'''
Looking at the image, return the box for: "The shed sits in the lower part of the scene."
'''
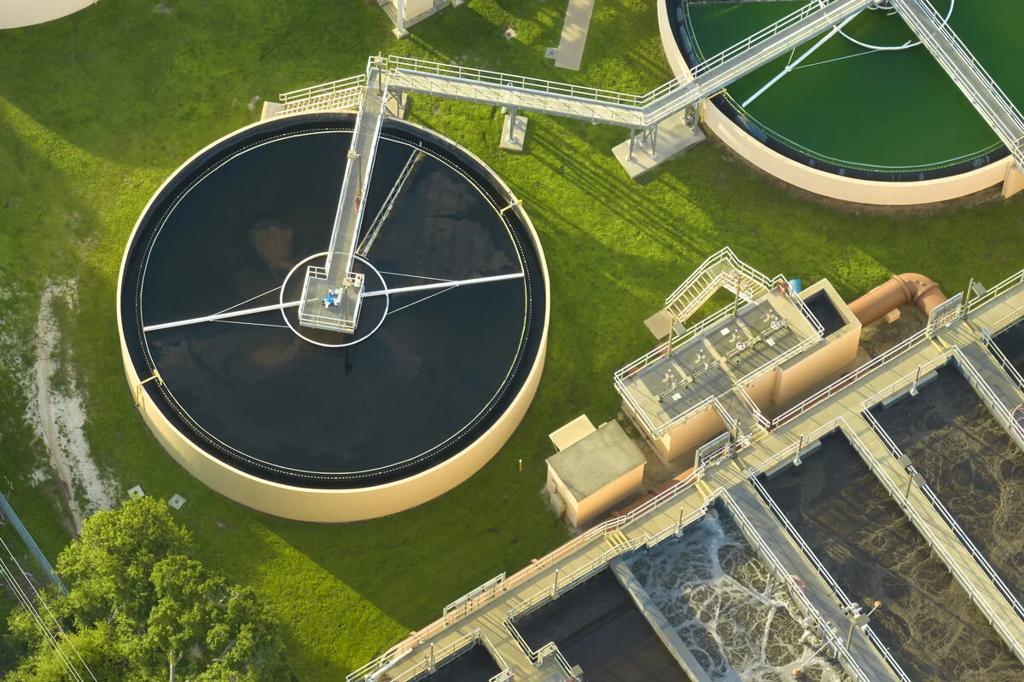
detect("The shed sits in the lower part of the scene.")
[546,420,646,526]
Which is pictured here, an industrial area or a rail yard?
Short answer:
industrial area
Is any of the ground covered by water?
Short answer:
Yes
